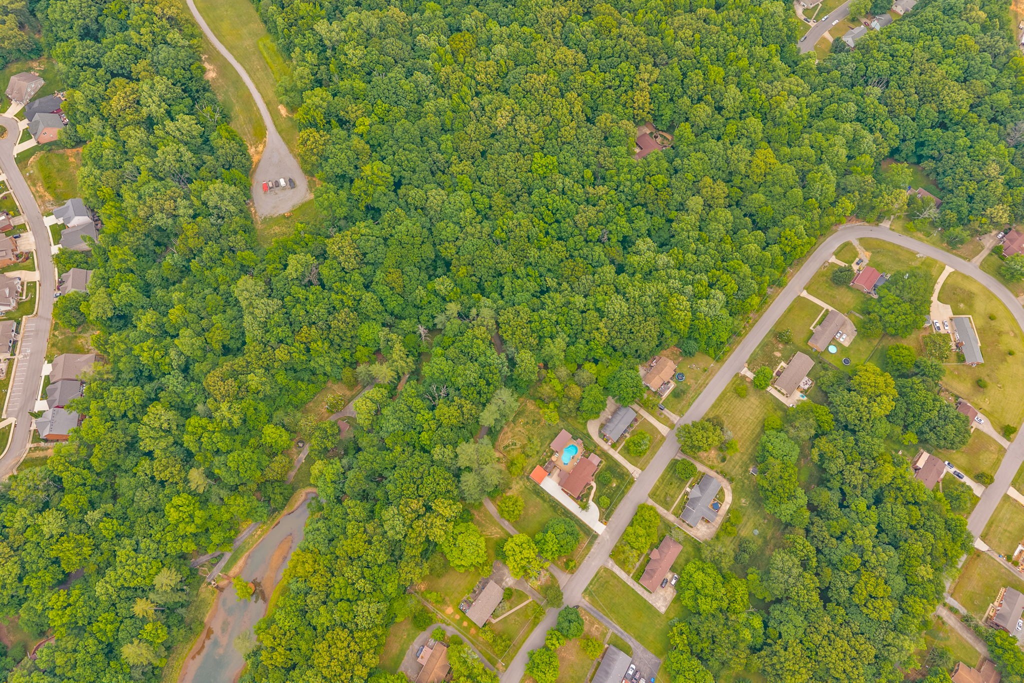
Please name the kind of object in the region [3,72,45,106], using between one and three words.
house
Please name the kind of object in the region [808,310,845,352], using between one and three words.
house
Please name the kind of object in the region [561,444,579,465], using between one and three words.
swimming pool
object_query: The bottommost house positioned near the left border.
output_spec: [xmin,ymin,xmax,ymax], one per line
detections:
[35,409,80,436]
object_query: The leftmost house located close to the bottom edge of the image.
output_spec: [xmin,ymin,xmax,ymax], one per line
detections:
[414,640,452,683]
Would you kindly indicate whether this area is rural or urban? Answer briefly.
rural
